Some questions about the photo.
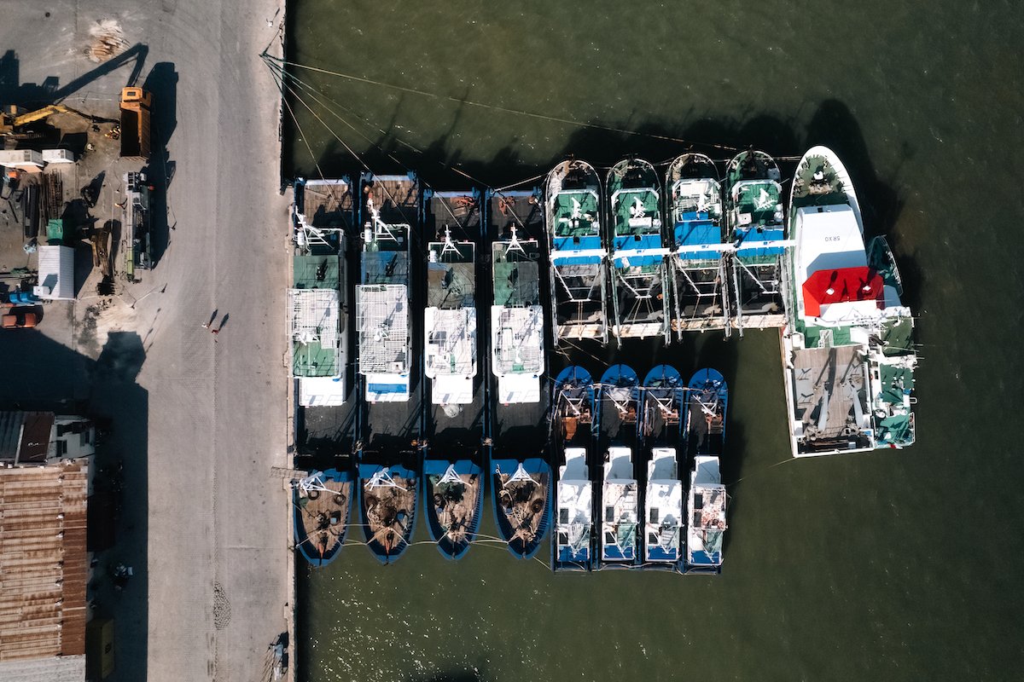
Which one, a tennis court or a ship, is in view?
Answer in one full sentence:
Looking from above, you can make out a ship.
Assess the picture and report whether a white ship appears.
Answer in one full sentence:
Yes, there's a white ship down there.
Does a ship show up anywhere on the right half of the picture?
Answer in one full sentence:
Yes, a ship can be seen on the right half of the picture.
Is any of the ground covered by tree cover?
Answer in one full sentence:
No, there is no tree cover in the image.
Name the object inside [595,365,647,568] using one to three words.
boat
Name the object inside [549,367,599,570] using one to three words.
boat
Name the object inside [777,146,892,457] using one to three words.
ship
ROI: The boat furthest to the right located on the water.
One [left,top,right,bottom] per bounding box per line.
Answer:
[863,236,924,450]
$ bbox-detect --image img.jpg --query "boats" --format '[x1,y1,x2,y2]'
[547,156,610,347]
[549,367,599,570]
[606,154,672,346]
[723,146,795,337]
[863,236,924,450]
[487,182,552,561]
[595,365,647,568]
[421,183,484,561]
[664,148,732,340]
[286,176,358,567]
[683,369,732,572]
[355,172,421,564]
[637,365,688,568]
